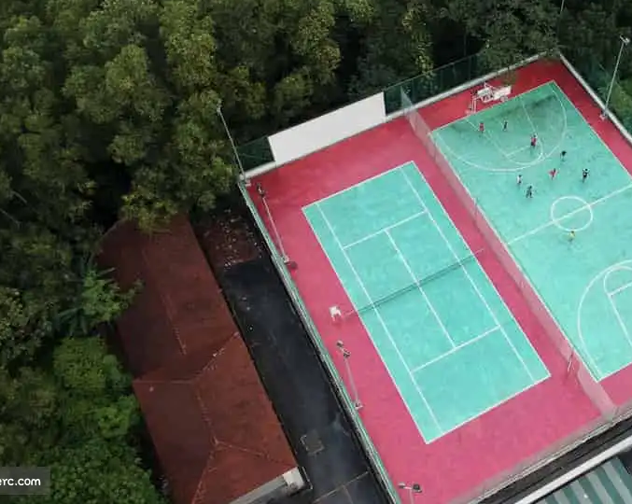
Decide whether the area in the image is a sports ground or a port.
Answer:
sports ground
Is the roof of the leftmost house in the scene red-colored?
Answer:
Yes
